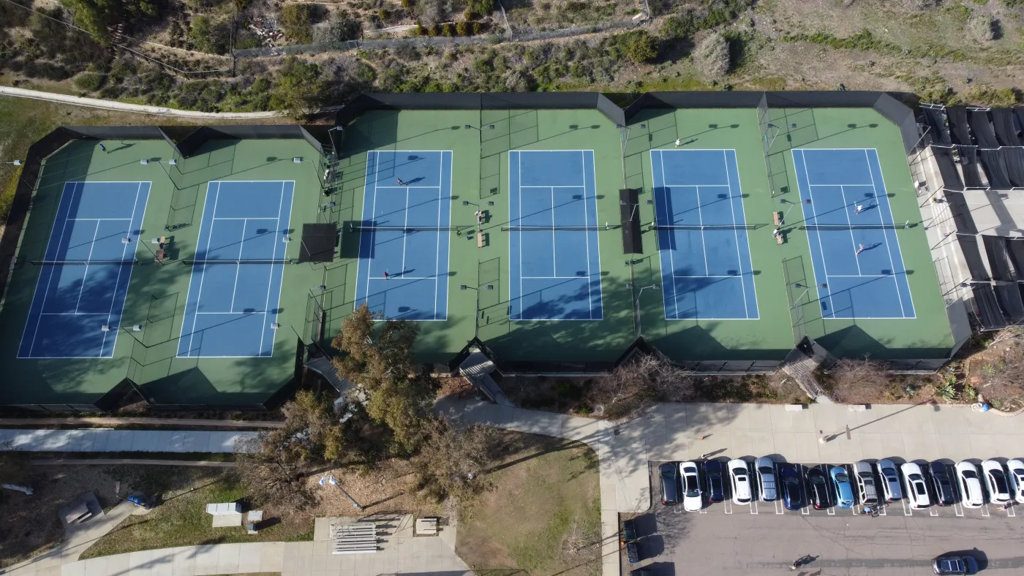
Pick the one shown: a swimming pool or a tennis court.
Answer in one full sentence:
The image shows a tennis court.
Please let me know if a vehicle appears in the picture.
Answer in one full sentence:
Yes, the photo shows a vehicle.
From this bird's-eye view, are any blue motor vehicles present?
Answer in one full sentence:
Yes, the photo shows a blue motor vehicle.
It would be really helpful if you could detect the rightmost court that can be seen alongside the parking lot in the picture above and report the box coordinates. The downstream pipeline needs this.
[757,107,955,374]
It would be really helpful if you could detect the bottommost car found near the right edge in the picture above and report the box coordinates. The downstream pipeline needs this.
[930,554,977,576]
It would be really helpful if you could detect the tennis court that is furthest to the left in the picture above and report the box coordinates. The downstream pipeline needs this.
[0,140,185,415]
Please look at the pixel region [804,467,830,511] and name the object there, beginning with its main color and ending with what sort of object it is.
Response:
black car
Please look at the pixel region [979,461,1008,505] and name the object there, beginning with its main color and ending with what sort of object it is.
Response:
white car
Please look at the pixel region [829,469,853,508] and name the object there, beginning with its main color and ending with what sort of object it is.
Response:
blue car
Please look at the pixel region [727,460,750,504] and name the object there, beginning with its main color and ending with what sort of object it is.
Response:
white car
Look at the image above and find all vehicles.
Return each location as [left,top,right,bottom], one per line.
[804,467,830,511]
[658,462,679,506]
[930,554,977,576]
[900,464,927,509]
[829,469,853,508]
[702,459,724,503]
[979,461,1008,505]
[679,464,702,509]
[954,465,981,505]
[778,466,802,510]
[875,459,902,502]
[753,458,776,502]
[926,462,955,506]
[852,462,879,506]
[727,460,750,504]
[1001,460,1024,504]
